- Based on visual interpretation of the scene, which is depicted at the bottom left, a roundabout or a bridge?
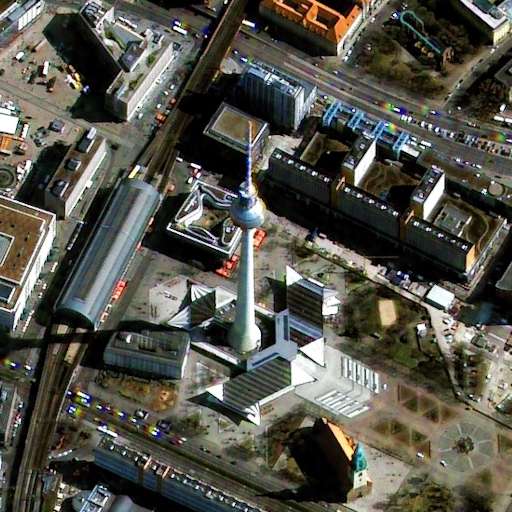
bridge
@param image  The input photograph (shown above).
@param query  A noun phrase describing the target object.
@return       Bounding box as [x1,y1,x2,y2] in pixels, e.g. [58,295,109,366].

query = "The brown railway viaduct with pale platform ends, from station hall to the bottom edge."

[11,318,94,512]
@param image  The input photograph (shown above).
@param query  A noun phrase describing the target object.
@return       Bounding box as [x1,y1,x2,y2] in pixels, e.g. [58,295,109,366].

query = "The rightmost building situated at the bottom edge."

[312,418,376,507]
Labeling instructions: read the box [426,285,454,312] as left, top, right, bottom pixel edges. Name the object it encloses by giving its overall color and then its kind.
white tent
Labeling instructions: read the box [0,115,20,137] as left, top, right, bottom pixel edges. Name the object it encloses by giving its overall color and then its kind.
white tent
